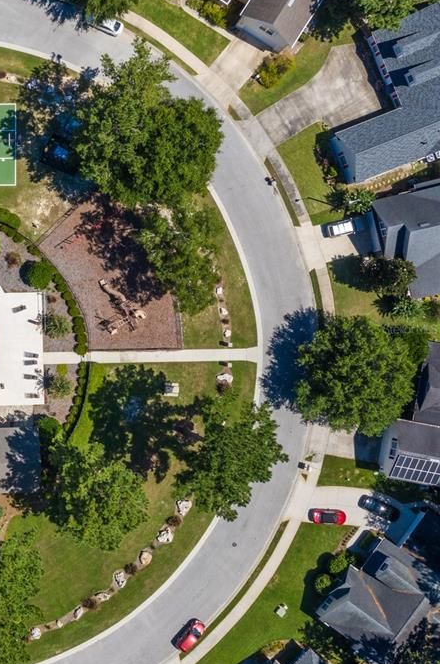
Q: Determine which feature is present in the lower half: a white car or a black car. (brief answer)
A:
black car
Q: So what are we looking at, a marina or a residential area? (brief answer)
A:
residential area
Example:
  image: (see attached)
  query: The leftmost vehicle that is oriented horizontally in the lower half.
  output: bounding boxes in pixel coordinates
[311,507,347,526]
